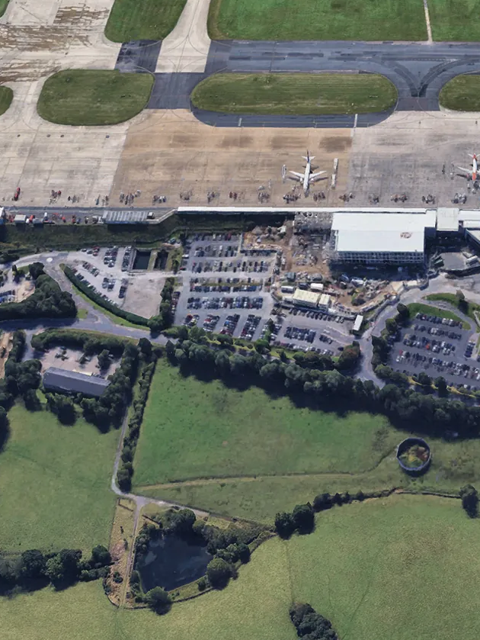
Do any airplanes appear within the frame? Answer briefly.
Yes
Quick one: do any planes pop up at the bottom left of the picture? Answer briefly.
No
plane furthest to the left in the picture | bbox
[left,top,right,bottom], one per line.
[288,156,325,194]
